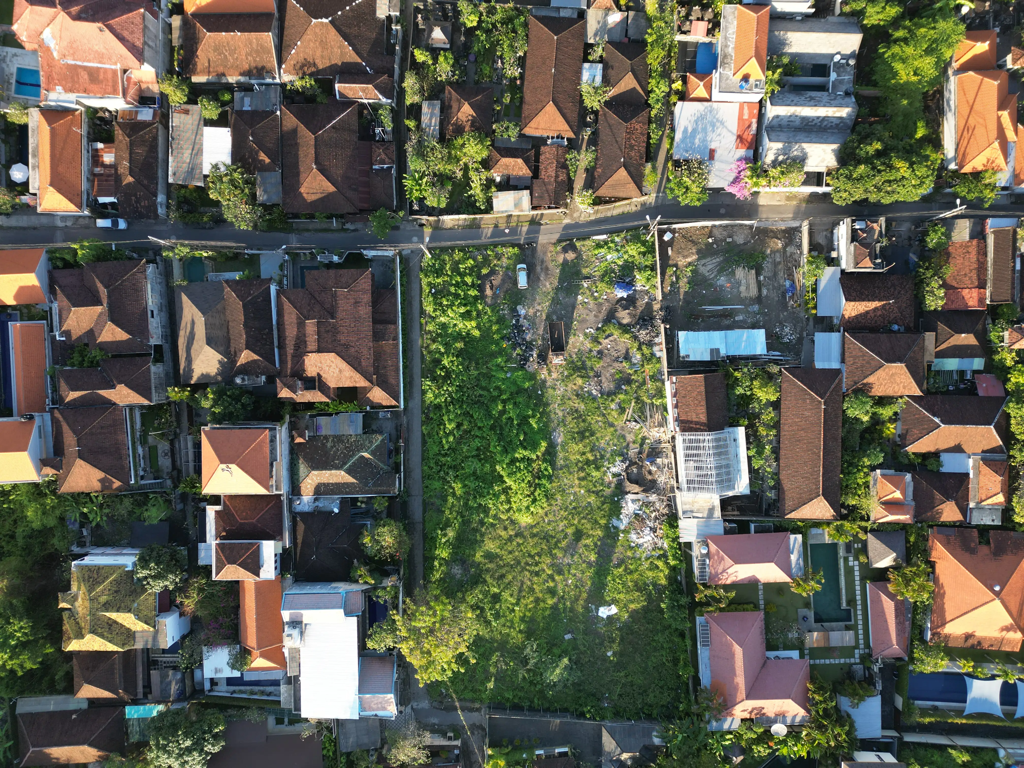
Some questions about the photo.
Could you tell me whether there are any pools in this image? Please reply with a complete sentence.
Yes, the frame does contain a pool.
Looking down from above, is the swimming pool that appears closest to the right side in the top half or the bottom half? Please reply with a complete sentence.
The swimming pool that appears closest to the right side sits in the bottom half of the picture.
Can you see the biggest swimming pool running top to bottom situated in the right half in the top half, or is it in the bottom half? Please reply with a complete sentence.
The biggest swimming pool running top to bottom situated in the right half sits in the bottom half of the picture.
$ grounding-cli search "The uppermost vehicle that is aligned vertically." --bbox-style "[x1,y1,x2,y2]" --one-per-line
[516,262,528,288]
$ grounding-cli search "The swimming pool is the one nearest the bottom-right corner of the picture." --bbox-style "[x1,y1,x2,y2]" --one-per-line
[907,671,1024,708]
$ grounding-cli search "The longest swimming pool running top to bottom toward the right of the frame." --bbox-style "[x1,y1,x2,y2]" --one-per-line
[808,541,854,625]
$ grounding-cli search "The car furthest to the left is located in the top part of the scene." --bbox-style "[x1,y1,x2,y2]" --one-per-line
[94,216,126,229]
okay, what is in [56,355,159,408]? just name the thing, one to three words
house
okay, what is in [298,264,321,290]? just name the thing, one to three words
swimming pool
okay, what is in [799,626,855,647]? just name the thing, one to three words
gazebo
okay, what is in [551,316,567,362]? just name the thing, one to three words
vehicle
